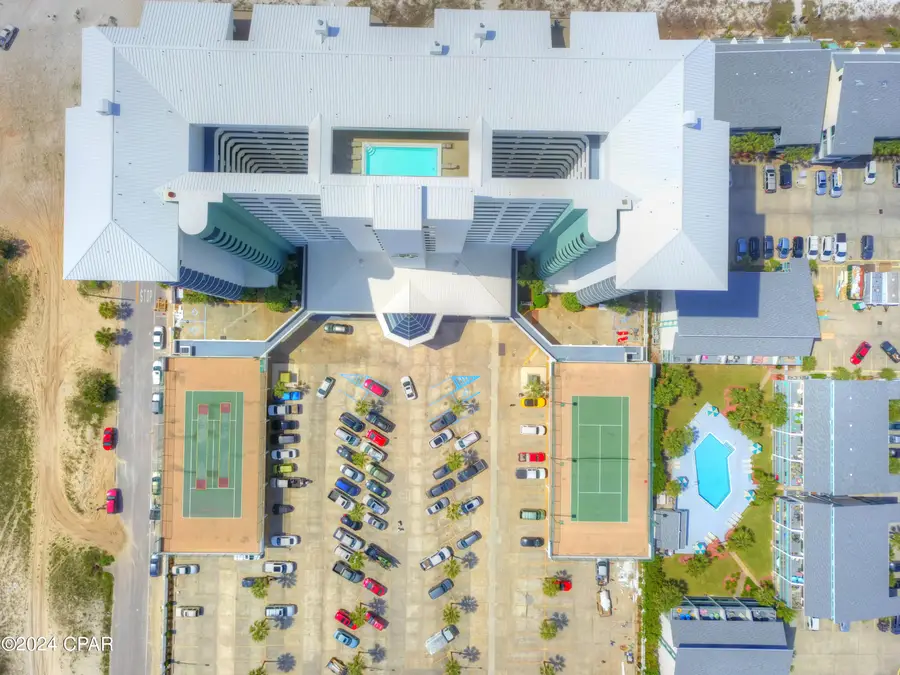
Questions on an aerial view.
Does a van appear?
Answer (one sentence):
Yes, a van can be made out from above.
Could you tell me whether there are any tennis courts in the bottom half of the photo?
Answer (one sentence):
Yes, a tennis court appears in the bottom half of the photo.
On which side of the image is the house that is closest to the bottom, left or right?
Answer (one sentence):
The house that is closest to the bottom is on the right side of the image.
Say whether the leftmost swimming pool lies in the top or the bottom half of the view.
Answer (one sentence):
The top half of the photo is where the leftmost swimming pool is.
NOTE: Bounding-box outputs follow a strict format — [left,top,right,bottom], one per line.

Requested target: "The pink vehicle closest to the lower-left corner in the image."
[105,485,120,517]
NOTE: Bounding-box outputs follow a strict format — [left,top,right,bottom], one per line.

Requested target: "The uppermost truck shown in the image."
[0,23,23,54]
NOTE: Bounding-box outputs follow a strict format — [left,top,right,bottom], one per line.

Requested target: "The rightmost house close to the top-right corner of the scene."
[815,48,900,163]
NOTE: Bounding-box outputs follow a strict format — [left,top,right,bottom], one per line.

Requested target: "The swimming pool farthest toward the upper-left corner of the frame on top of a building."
[362,143,440,178]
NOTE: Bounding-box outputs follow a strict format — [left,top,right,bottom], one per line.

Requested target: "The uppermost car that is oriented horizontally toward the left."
[325,323,351,335]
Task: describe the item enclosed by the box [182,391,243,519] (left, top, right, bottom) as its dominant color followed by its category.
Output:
green sports court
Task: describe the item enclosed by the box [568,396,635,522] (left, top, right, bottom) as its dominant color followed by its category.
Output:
green tennis court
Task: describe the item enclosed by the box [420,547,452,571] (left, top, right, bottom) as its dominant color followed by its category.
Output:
white truck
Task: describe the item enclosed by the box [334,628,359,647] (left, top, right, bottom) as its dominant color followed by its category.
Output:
blue car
